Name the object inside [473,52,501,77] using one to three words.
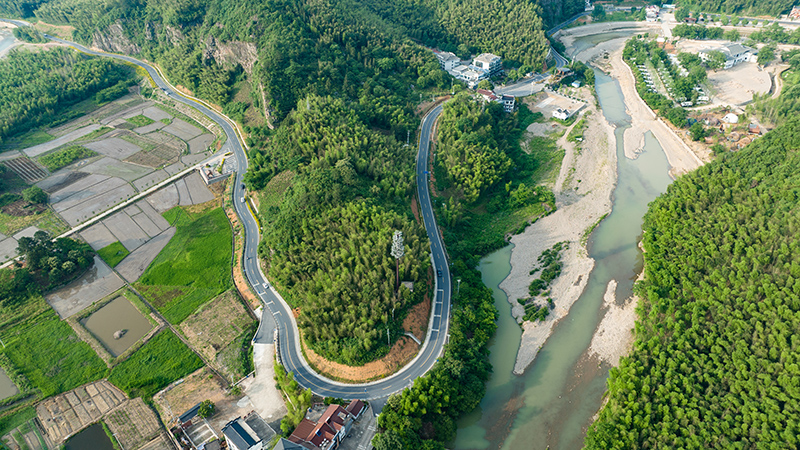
building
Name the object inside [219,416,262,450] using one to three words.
house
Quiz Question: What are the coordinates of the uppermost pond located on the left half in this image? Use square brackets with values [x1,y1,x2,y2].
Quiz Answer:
[74,291,159,362]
